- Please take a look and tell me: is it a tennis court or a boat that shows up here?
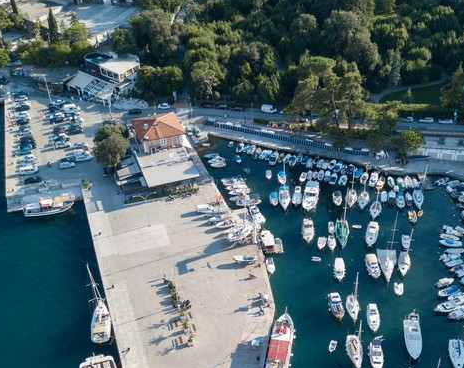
boat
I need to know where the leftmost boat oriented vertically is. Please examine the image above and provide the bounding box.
[88,280,110,346]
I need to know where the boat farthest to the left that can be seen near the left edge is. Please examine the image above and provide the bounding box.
[23,189,73,219]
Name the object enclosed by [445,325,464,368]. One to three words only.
boat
